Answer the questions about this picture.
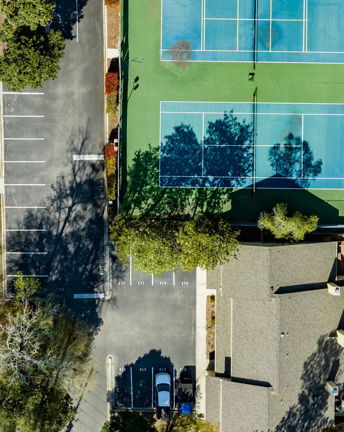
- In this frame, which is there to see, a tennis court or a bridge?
tennis court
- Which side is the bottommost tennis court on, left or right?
right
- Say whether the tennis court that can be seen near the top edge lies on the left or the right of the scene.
right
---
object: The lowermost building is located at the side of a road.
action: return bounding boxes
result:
[204,373,338,432]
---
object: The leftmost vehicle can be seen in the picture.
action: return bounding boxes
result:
[154,374,173,421]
